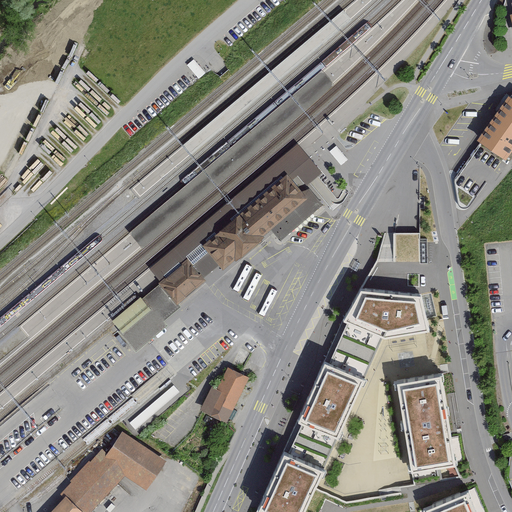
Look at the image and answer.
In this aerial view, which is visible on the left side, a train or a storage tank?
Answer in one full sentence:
Visible on the left side is a train.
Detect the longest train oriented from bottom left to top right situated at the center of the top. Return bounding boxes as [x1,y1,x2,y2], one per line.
[179,22,368,184]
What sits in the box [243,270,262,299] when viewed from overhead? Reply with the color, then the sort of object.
white vehicle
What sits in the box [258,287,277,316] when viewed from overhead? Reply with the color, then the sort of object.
white vehicle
